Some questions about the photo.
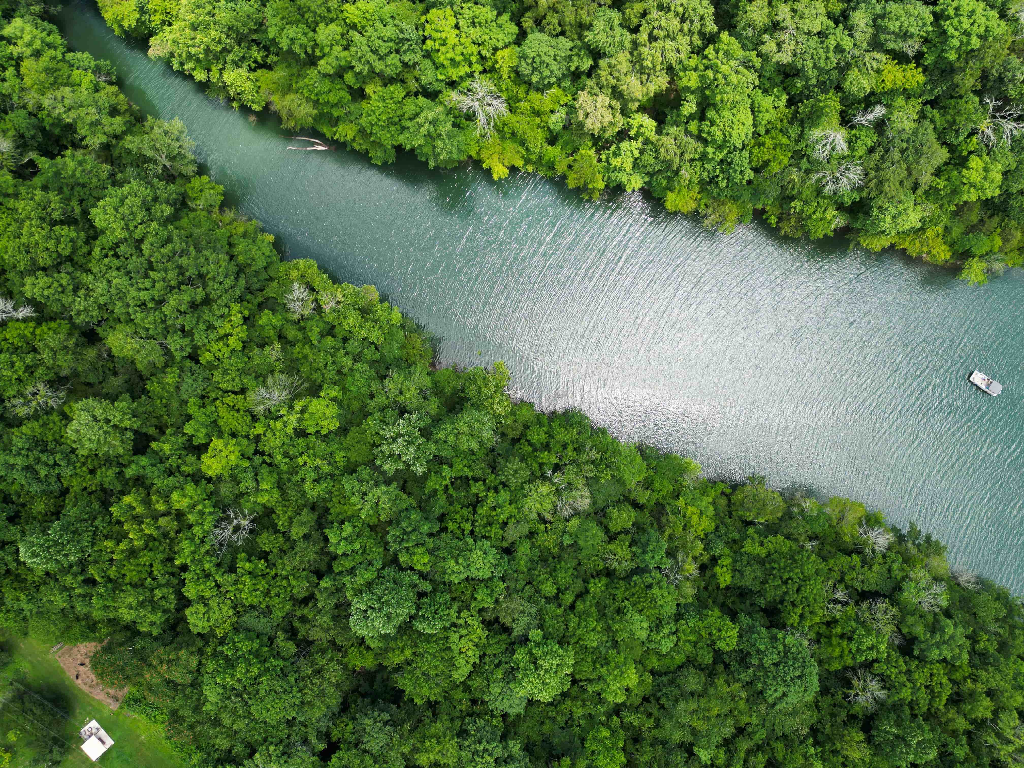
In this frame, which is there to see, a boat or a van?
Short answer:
boat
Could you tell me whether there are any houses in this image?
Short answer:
No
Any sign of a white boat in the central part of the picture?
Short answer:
No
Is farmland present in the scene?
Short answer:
No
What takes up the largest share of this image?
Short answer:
trees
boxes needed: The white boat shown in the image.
[968,370,1004,396]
